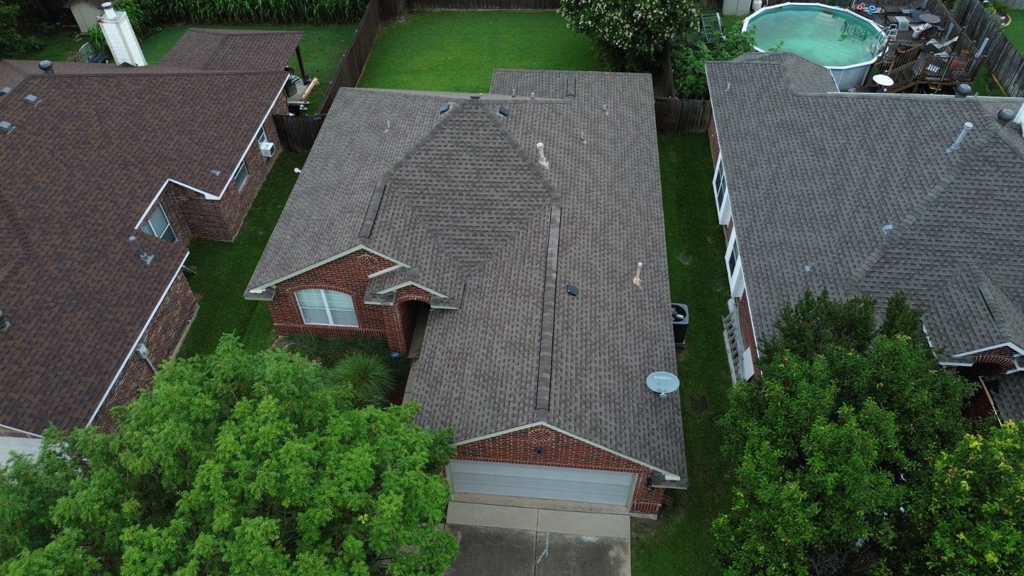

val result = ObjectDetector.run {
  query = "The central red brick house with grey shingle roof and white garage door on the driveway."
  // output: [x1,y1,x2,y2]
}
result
[245,70,688,518]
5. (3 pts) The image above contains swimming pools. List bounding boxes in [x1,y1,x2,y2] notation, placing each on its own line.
[740,1,885,92]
